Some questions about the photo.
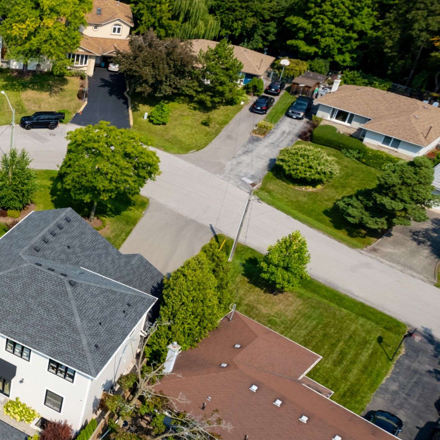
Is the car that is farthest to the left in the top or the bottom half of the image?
top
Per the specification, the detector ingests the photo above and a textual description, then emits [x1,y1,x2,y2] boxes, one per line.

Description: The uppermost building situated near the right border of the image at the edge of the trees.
[314,75,440,162]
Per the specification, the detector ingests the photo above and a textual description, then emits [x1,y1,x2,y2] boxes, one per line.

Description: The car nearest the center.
[254,92,276,111]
